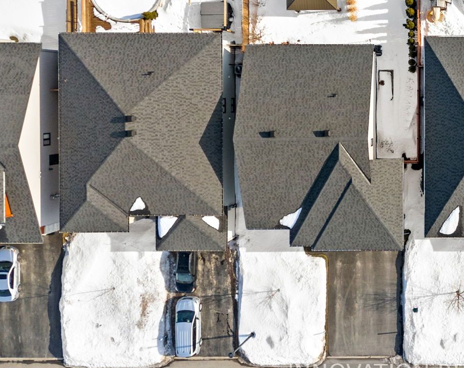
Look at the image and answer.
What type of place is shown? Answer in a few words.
residential area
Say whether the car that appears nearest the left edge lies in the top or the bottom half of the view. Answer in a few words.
bottom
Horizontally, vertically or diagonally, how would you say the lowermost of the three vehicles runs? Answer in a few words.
vertically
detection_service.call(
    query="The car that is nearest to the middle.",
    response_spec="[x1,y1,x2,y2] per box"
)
[170,251,201,291]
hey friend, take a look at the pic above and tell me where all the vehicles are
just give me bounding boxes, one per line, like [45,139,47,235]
[173,295,205,357]
[170,251,201,291]
[0,245,26,302]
